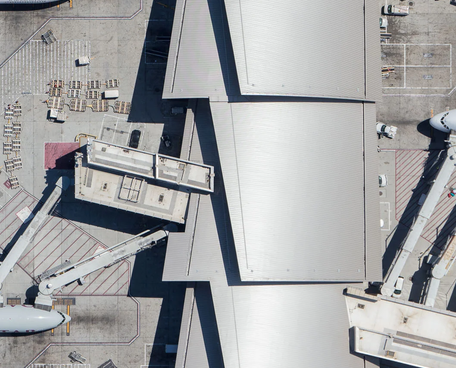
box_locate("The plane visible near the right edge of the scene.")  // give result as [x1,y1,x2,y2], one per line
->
[430,109,456,132]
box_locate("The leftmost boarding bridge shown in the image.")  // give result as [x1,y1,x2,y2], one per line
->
[0,174,75,302]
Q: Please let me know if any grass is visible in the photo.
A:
No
